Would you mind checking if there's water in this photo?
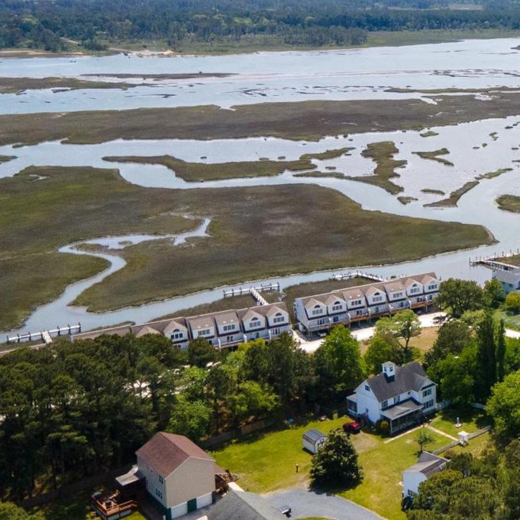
Yes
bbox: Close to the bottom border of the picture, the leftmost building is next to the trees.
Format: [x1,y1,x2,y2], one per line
[143,425,240,520]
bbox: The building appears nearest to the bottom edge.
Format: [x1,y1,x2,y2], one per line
[210,491,280,520]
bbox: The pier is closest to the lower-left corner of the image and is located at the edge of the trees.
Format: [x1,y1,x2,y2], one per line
[7,319,82,351]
